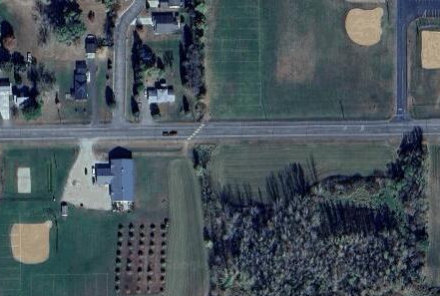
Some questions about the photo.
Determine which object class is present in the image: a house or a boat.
house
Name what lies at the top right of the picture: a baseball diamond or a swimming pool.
baseball diamond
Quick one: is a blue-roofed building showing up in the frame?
Yes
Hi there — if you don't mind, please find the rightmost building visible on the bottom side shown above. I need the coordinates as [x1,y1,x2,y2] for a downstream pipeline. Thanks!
[94,158,134,201]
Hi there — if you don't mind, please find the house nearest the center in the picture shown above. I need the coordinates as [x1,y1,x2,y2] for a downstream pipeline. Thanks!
[148,85,175,105]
